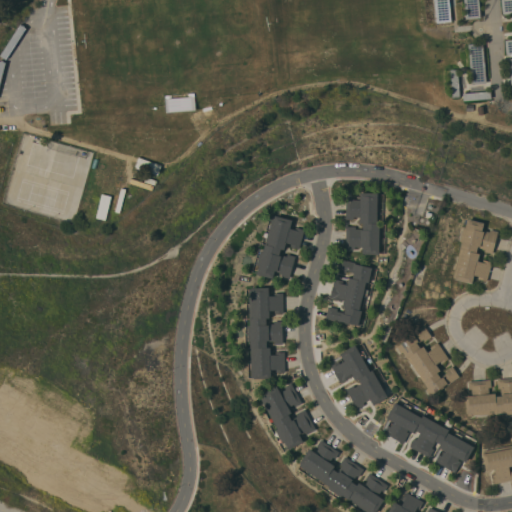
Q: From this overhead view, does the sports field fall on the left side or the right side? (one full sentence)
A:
The sports field appears in the left half of the scene.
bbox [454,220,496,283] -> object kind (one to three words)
house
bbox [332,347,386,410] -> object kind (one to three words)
building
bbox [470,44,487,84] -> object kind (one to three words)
house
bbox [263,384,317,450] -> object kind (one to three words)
building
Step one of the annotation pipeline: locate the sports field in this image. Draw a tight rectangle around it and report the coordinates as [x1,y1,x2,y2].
[86,0,268,75]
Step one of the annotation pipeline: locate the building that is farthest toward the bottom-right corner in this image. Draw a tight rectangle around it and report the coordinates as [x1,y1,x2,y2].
[484,450,512,486]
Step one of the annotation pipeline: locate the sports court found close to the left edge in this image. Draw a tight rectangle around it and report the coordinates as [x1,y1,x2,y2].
[6,134,94,219]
